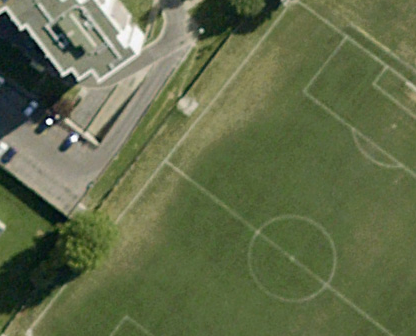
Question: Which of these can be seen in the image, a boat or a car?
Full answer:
Of the two, only a car appears.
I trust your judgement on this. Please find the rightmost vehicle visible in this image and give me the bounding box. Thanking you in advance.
[60,134,77,152]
